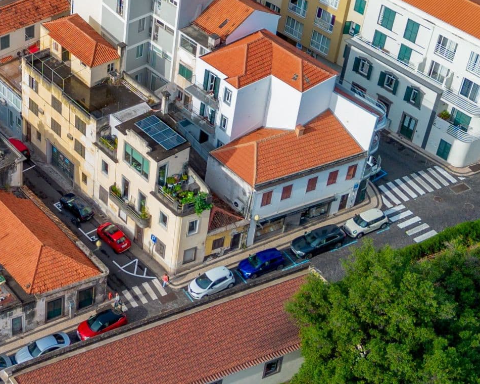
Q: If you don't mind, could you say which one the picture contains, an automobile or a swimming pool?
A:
automobile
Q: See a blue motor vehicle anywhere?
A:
Yes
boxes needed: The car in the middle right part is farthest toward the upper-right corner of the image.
[360,152,388,186]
